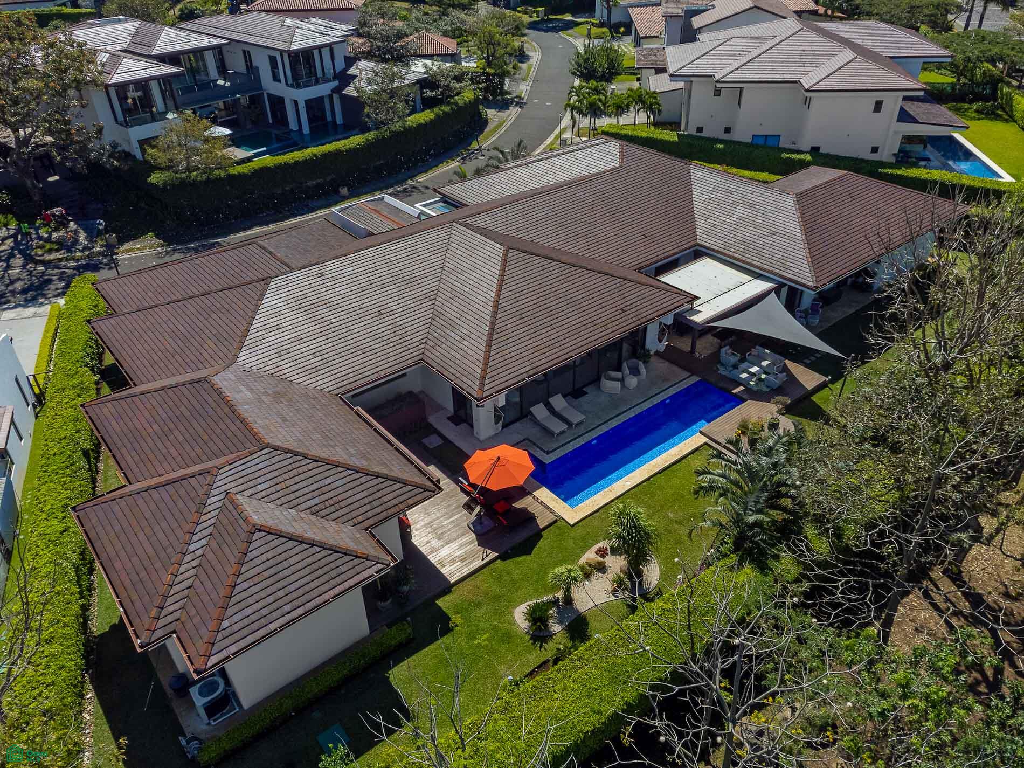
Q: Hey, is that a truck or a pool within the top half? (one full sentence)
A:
You can see a pool within the top half.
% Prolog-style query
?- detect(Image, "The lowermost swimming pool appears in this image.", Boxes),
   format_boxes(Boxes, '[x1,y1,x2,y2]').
[517,379,744,527]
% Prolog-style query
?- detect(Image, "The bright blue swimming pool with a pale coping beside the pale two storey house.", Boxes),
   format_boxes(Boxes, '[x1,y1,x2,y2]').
[903,132,1016,179]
